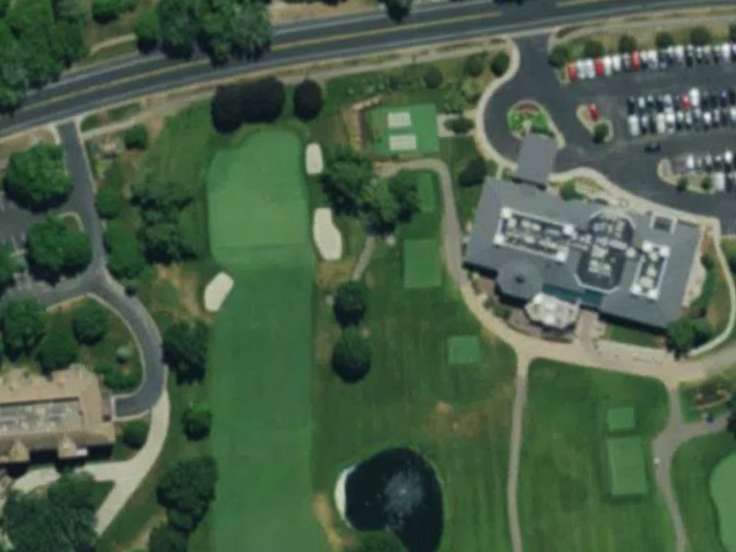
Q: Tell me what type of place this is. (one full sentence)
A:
What you see here is a golf course.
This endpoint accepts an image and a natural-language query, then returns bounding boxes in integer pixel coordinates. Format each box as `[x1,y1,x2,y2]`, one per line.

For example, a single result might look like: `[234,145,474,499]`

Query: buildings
[0,365,115,480]
[463,136,701,341]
